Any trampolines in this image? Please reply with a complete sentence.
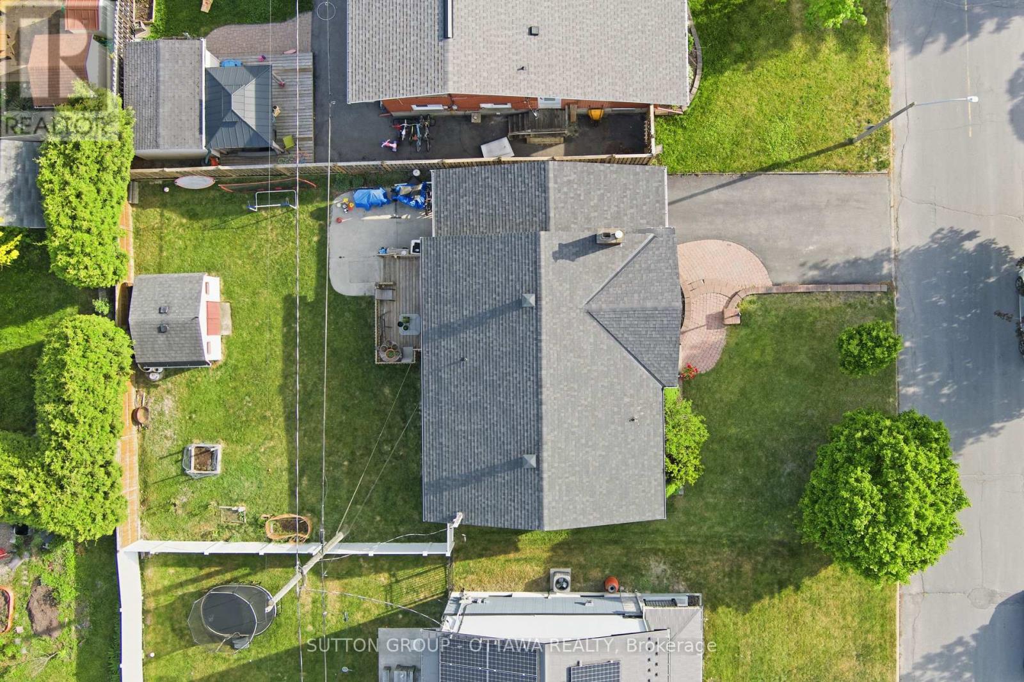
Yes, you can see a trampoline in this photo.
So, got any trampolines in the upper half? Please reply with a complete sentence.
No, no trampoline can be made out in the upper half.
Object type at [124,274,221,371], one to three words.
shed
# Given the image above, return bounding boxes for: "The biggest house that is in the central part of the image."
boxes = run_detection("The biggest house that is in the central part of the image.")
[419,230,683,531]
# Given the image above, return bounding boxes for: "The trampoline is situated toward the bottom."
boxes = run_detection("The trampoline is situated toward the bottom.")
[188,579,281,655]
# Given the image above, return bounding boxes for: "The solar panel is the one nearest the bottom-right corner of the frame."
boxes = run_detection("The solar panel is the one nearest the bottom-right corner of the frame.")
[571,659,619,682]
